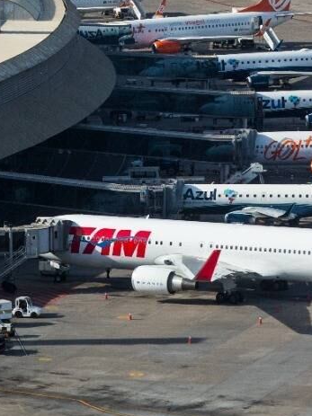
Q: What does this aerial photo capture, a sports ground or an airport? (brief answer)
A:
airport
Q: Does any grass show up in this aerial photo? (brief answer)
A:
No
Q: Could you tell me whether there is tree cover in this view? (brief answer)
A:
No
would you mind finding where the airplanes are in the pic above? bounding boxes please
[229,127,312,174]
[146,174,312,225]
[249,84,312,124]
[204,39,312,88]
[57,210,312,306]
[89,0,312,53]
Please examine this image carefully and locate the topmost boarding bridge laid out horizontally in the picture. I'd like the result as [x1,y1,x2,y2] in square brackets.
[110,51,218,94]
